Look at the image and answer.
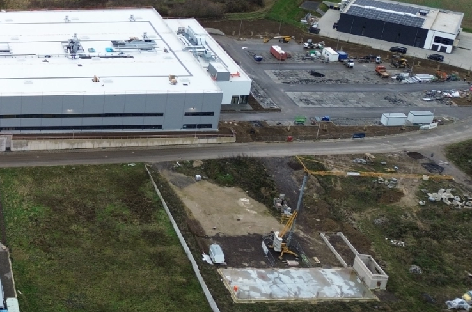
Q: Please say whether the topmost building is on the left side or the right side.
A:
right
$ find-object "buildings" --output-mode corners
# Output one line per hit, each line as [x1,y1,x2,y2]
[0,5,252,133]
[334,0,467,54]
